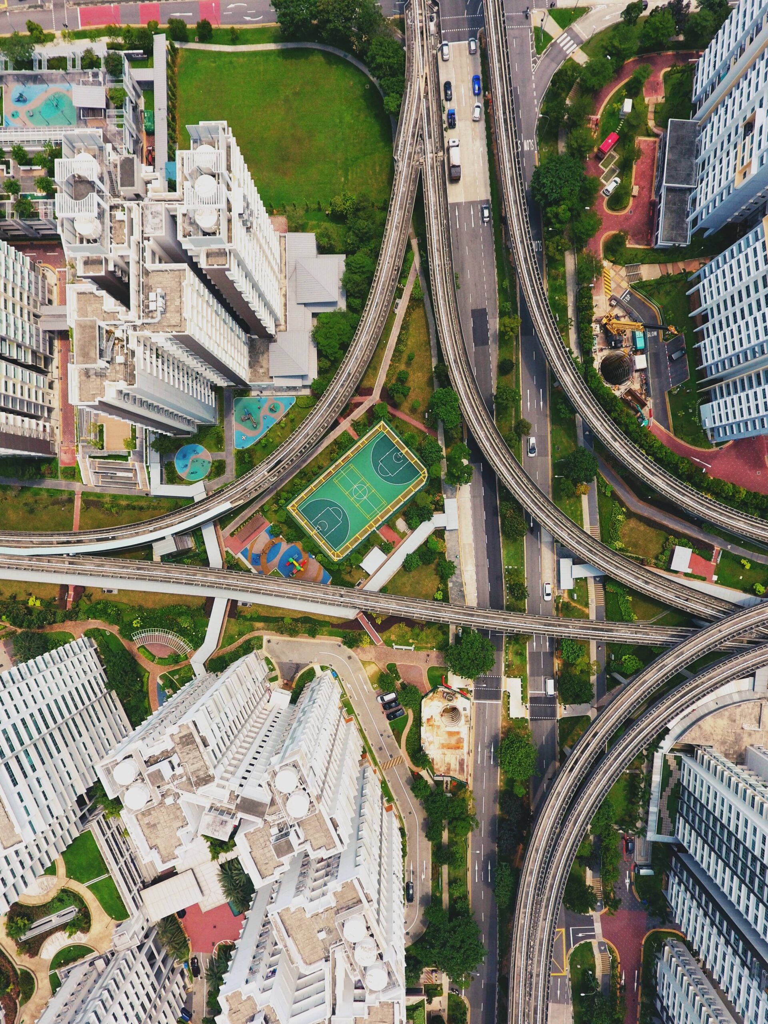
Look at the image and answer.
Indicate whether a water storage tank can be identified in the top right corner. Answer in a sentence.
No, looking in the top right corner, there is no water storage tank.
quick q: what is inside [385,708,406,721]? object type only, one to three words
vehicle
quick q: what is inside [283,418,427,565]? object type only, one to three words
sports court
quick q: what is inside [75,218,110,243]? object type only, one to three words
water tank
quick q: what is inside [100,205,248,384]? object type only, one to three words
building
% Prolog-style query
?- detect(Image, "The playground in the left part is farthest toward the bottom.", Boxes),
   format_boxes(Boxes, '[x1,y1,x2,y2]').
[240,523,332,584]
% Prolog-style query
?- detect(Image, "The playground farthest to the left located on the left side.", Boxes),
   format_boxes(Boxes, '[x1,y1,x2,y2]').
[174,444,211,481]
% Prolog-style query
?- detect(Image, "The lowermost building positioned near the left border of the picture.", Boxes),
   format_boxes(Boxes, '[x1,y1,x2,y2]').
[36,945,197,1024]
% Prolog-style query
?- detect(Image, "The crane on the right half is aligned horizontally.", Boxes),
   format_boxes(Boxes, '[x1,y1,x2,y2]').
[593,311,678,350]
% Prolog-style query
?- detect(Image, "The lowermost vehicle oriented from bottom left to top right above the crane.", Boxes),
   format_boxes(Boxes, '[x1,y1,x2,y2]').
[604,176,621,198]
